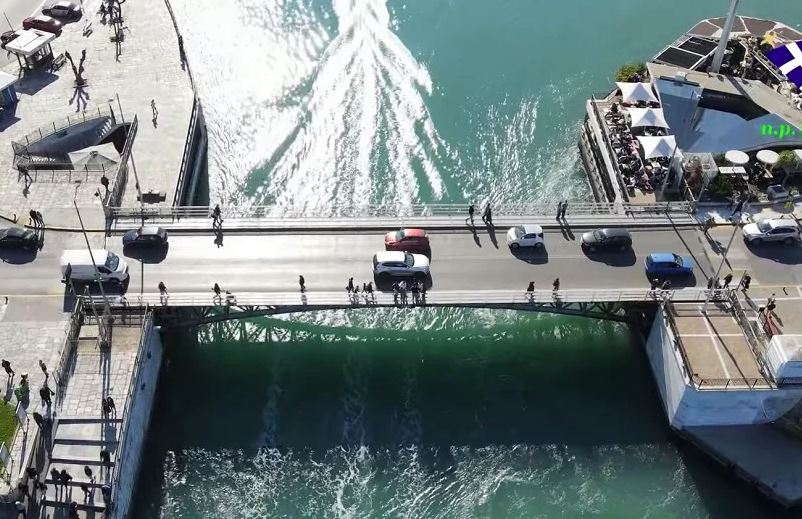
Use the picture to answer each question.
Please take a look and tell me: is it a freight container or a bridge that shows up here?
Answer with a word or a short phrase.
bridge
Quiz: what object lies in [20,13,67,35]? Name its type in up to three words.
car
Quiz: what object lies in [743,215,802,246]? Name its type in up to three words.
car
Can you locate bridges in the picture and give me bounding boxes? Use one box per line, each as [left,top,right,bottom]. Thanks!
[83,203,706,350]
